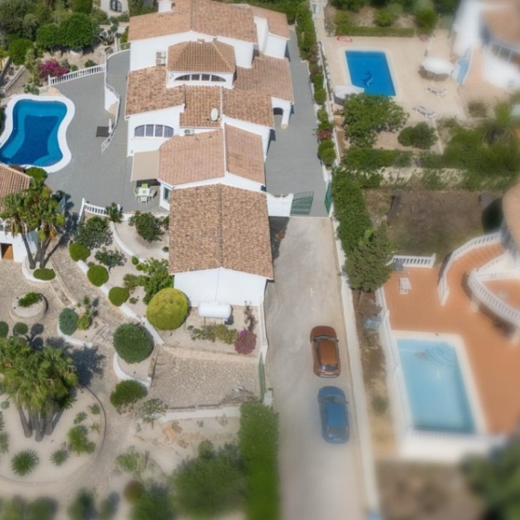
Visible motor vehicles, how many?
2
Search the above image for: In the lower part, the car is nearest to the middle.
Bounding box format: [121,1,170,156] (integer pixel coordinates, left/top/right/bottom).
[311,330,345,382]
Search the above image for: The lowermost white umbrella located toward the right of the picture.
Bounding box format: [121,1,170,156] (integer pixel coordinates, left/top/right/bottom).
[331,79,369,106]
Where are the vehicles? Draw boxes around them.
[311,330,345,382]
[318,390,353,446]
